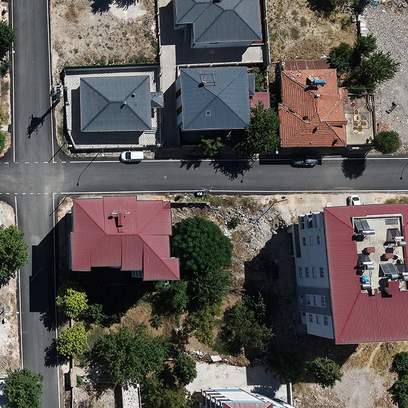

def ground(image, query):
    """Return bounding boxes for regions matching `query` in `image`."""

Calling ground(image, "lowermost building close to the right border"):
[295,203,408,344]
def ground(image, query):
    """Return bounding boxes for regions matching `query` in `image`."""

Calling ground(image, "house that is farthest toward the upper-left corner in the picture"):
[80,75,164,132]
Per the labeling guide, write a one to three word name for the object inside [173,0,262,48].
house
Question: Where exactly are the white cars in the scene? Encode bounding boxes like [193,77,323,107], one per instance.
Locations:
[121,150,144,162]
[347,192,361,206]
